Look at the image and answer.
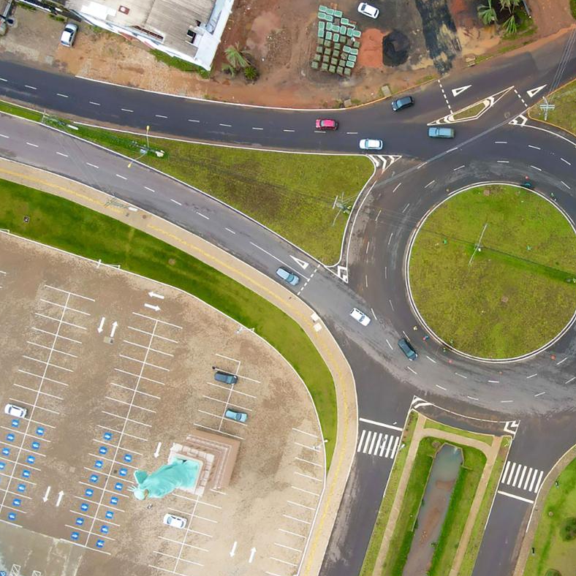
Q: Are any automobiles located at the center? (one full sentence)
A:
Yes, at the center there is an automobile.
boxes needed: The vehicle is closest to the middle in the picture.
[274,267,298,284]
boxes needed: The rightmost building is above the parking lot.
[66,0,241,74]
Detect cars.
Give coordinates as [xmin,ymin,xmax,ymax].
[163,516,185,528]
[2,405,26,418]
[212,371,236,384]
[390,95,413,110]
[58,21,75,47]
[347,308,370,325]
[359,138,381,149]
[428,126,453,138]
[274,267,298,284]
[356,1,380,18]
[314,118,336,129]
[397,337,416,360]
